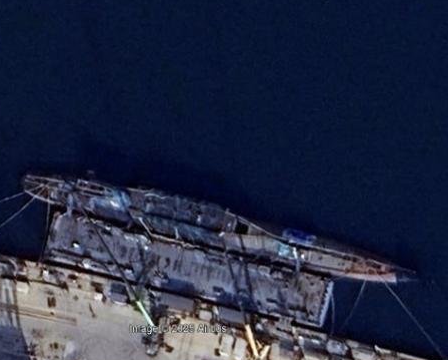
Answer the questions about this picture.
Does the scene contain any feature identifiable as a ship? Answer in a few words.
Yes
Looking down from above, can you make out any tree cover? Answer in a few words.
No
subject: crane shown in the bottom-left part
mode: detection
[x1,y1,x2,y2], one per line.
[79,206,163,355]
